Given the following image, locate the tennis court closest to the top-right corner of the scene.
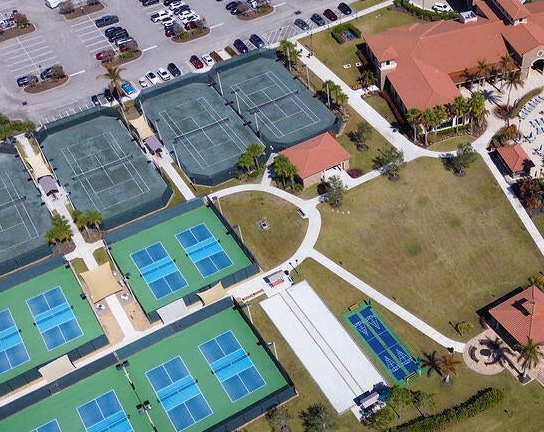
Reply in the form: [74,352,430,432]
[214,59,337,149]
